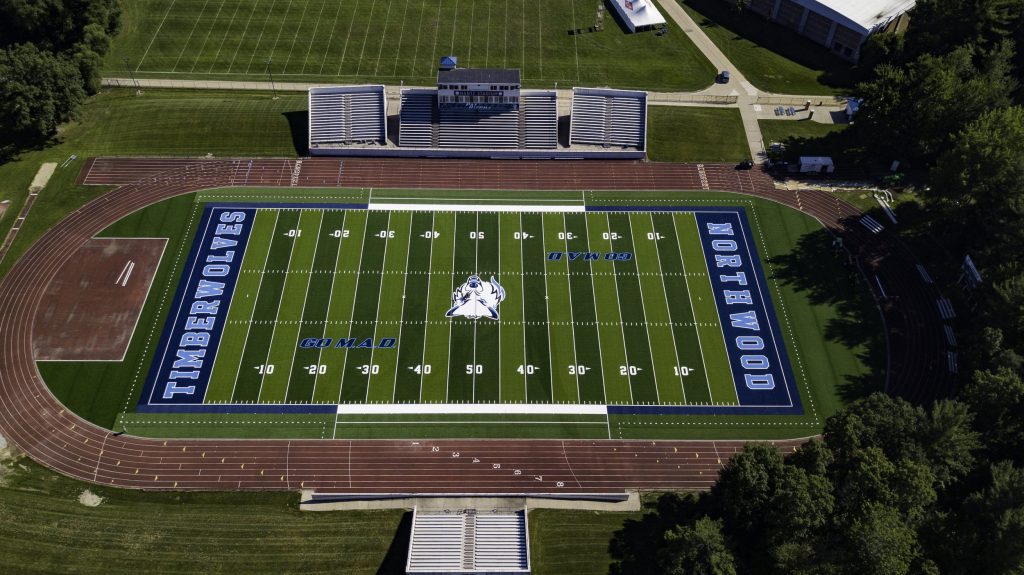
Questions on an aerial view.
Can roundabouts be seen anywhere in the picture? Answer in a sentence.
No, there appears to be no roundabout in this shot.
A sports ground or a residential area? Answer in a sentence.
The picture captures a sports ground.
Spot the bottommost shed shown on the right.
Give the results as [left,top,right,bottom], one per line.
[799,157,836,173]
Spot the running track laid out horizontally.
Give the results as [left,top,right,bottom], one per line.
[0,155,944,490]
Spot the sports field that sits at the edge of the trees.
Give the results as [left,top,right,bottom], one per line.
[33,187,889,438]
